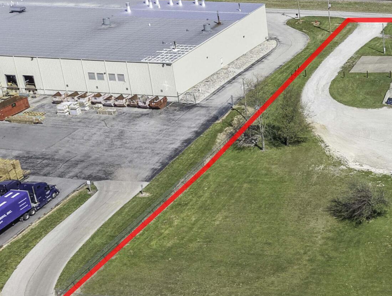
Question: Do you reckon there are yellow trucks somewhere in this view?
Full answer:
No, there appears to be no yellow truck in this shot.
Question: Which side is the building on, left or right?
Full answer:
The building appears in the left half of the scene.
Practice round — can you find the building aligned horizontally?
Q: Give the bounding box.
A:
[0,0,268,100]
